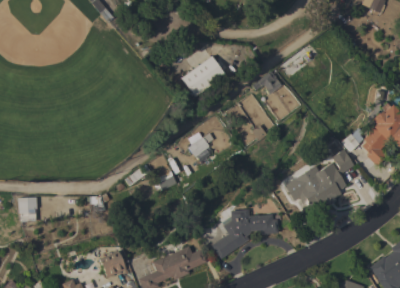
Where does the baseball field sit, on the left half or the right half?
left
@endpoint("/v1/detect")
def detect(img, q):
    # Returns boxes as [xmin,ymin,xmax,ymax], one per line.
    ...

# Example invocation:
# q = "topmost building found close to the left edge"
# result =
[18,198,38,222]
